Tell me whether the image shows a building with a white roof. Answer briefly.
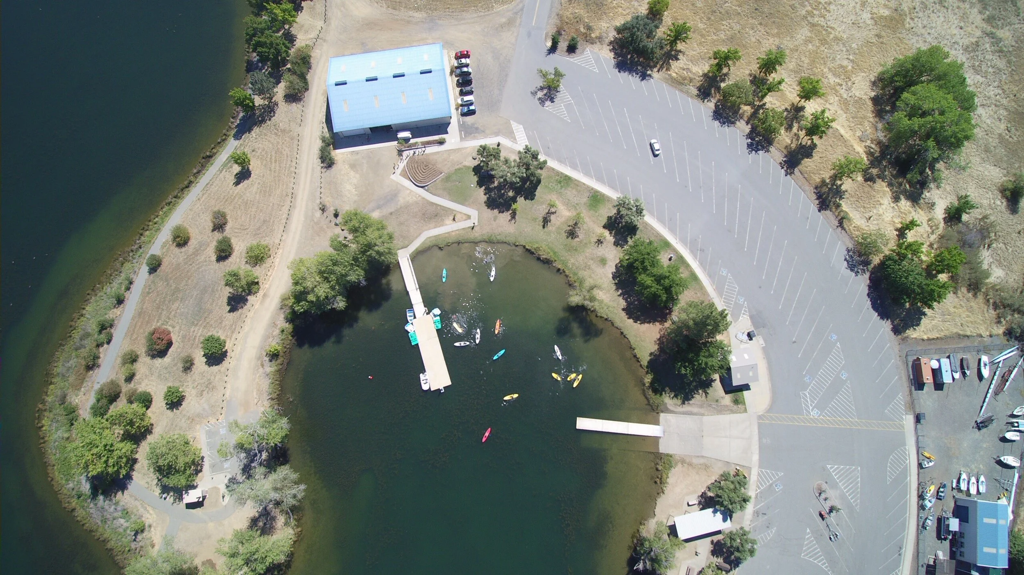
Yes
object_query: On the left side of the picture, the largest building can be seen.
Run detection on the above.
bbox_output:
[328,42,452,140]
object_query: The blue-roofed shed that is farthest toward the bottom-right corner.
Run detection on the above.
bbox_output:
[954,498,1010,575]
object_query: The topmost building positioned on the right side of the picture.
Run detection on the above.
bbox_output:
[725,350,761,385]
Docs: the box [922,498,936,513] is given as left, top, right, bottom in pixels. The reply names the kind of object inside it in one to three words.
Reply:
boat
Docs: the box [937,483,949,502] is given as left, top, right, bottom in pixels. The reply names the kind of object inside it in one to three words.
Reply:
boat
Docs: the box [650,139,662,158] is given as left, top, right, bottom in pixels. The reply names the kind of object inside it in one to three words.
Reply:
vehicle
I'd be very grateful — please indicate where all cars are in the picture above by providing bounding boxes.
[454,48,472,58]
[458,85,475,96]
[650,139,662,158]
[454,67,473,77]
[455,75,474,86]
[459,105,477,116]
[457,95,475,106]
[453,57,471,67]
